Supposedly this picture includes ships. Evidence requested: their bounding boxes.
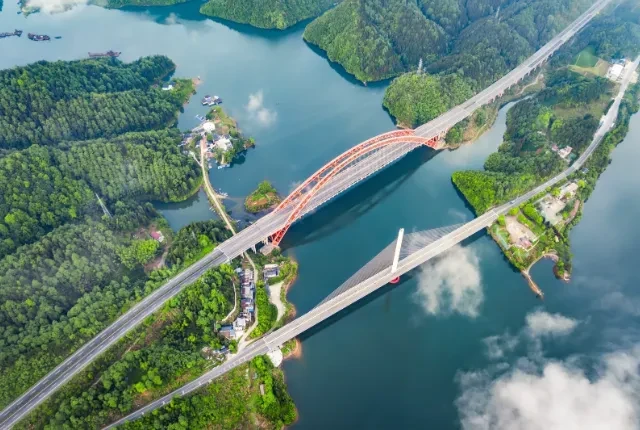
[28,34,49,39]
[0,29,21,36]
[88,49,119,56]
